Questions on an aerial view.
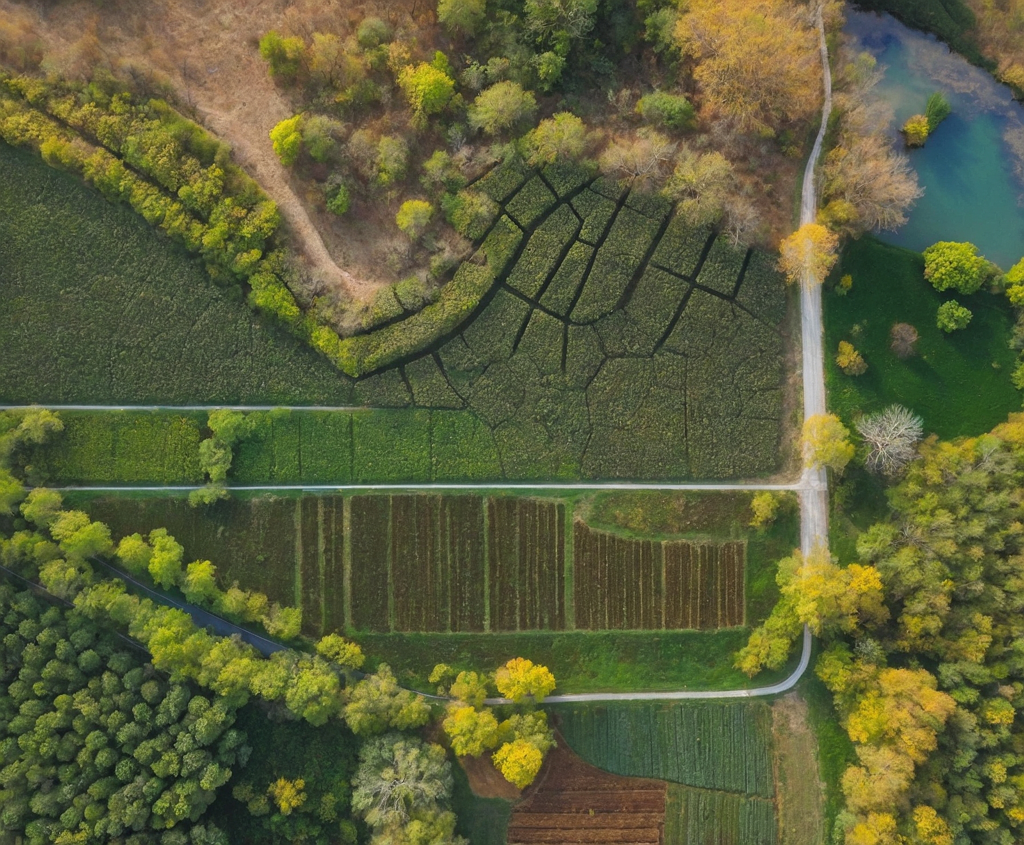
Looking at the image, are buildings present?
No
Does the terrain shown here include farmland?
Yes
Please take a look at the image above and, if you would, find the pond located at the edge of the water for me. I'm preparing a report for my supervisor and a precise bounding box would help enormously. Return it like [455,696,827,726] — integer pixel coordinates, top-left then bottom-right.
[843,9,1024,266]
